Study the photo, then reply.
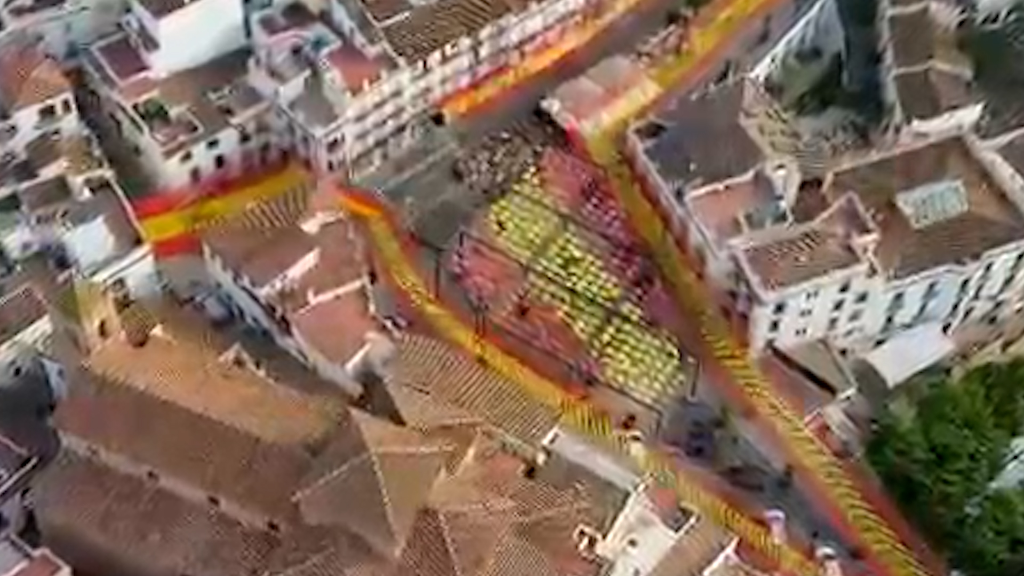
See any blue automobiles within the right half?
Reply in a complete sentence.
No, looking within the right half, there is no blue automobile.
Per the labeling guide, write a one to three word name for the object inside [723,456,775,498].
car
